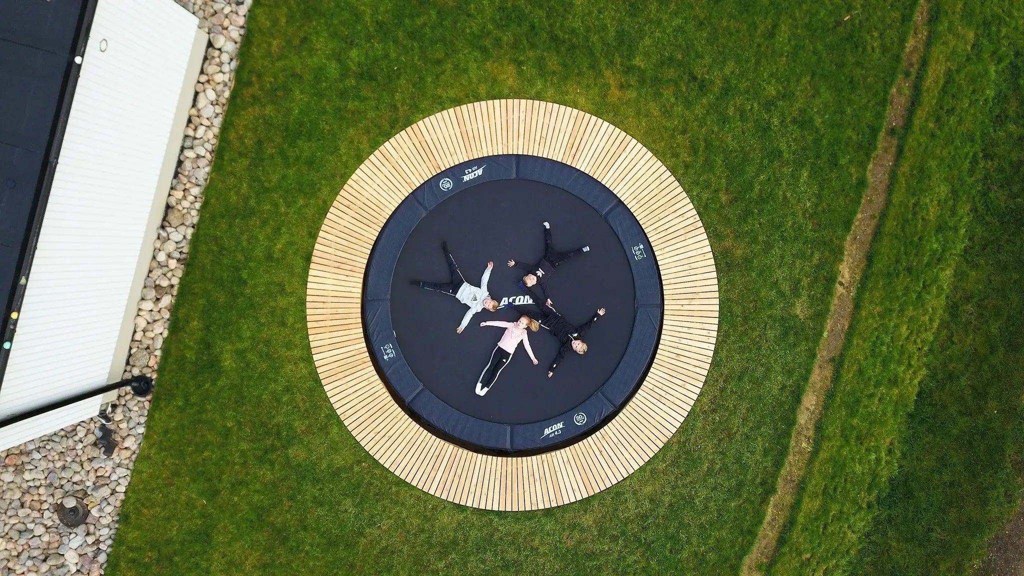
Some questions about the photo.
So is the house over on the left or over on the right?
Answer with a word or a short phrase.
left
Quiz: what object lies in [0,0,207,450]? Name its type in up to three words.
house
